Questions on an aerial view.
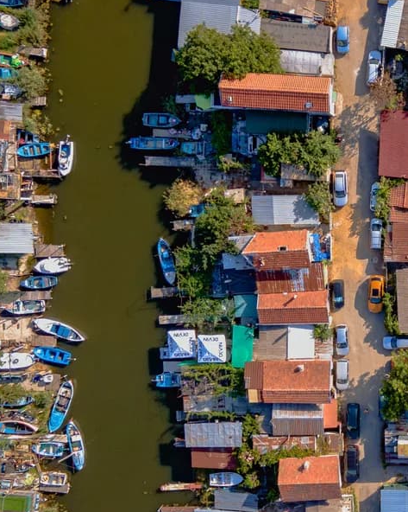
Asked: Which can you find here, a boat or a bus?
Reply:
boat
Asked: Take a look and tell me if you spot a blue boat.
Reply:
Yes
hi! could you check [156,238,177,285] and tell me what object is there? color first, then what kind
blue boat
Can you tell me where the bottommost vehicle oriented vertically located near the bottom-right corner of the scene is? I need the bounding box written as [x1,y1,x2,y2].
[344,445,361,483]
